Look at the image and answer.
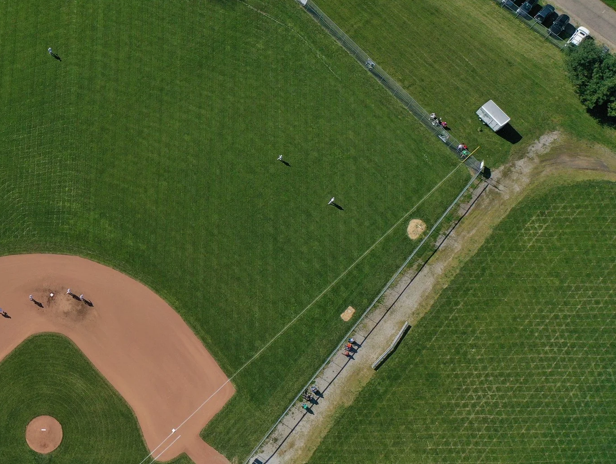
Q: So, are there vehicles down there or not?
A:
Yes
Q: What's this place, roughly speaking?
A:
sports ground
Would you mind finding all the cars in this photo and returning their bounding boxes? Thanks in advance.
[518,0,540,18]
[533,0,558,24]
[564,24,589,48]
[548,10,572,35]
[502,0,516,7]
